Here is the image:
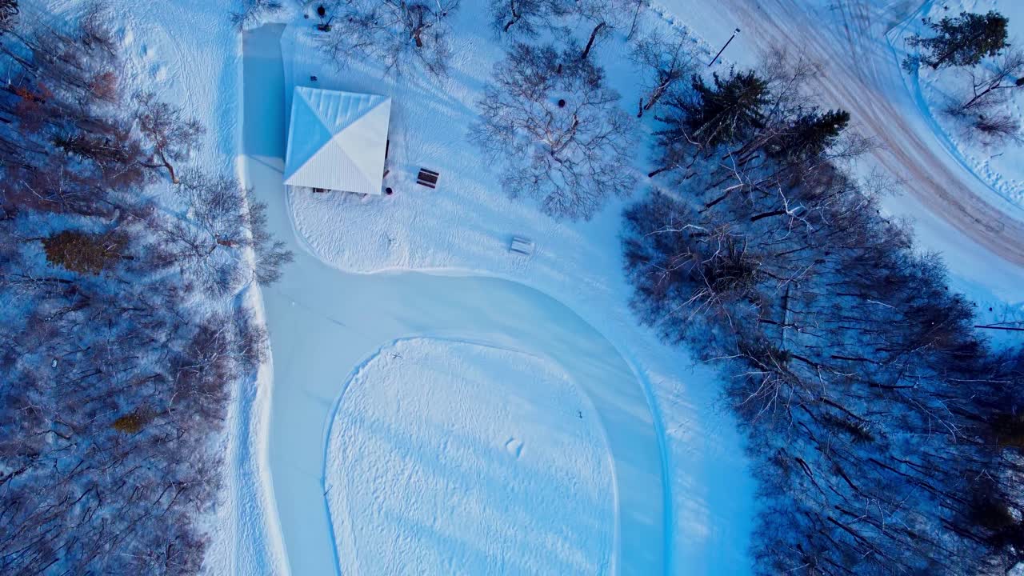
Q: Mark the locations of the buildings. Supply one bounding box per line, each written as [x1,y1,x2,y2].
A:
[284,86,392,195]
